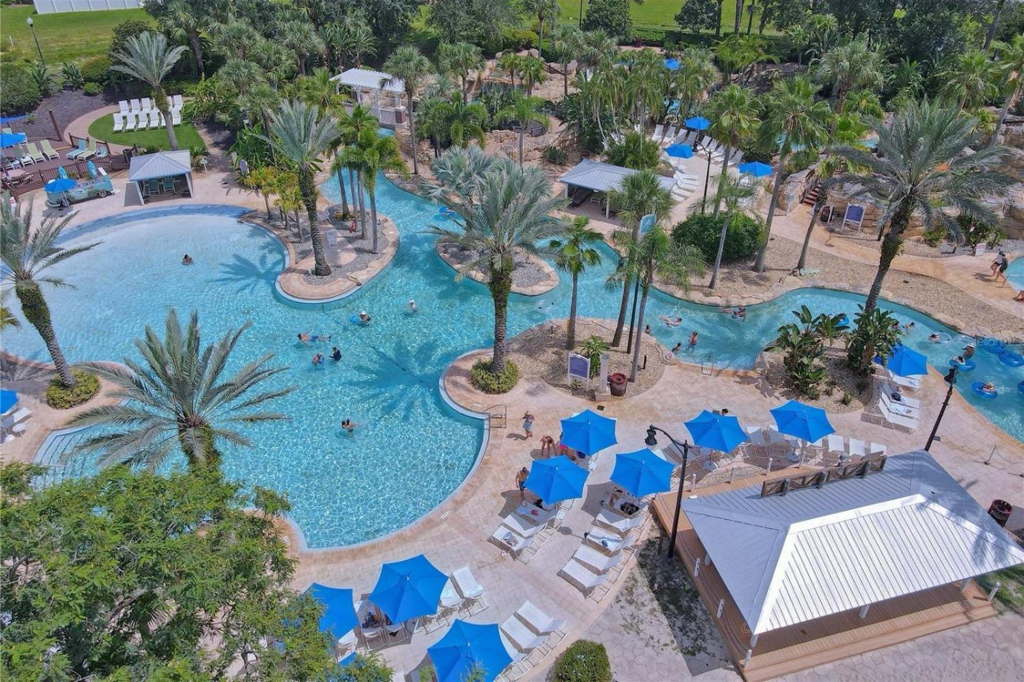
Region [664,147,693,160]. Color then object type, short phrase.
blue umbrella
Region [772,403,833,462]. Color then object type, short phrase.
blue umbrella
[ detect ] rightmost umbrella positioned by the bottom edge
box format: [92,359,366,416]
[427,623,512,682]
